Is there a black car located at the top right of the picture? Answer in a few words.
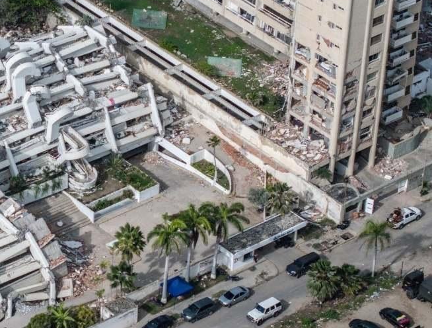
No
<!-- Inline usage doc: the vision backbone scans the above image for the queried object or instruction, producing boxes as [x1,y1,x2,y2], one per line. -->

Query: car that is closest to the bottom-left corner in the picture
[139,309,178,328]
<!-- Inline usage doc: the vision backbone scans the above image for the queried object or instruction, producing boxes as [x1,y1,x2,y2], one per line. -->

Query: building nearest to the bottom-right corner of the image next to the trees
[218,210,310,275]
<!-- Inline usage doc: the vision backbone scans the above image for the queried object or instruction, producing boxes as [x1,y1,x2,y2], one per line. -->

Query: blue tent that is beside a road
[157,274,196,311]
